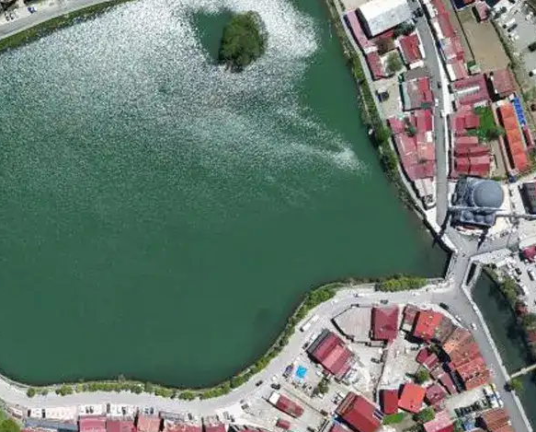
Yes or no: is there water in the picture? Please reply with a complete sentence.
Yes, there's water in this view.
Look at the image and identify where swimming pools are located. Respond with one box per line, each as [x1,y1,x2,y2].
[294,365,307,379]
